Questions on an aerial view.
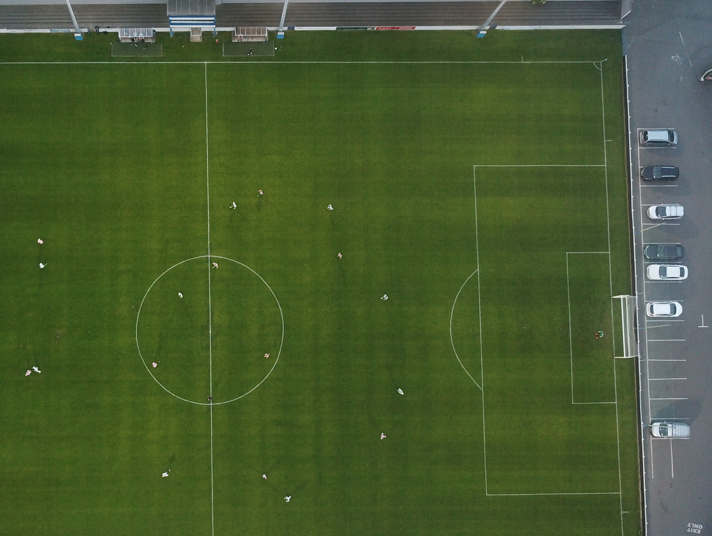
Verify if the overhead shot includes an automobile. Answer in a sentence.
Yes, looking at the shot, I can spot an automobile.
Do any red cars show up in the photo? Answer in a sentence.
No, the frame has no red car in it.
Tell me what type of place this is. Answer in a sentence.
What you see here is a sports ground.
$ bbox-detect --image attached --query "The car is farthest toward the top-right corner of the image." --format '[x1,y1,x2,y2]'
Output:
[640,129,676,147]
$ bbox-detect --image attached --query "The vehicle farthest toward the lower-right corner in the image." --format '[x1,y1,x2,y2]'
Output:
[650,421,691,439]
